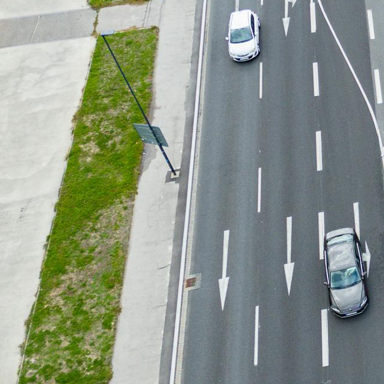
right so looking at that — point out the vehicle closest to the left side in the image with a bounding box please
[221,6,260,61]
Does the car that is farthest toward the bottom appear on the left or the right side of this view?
right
